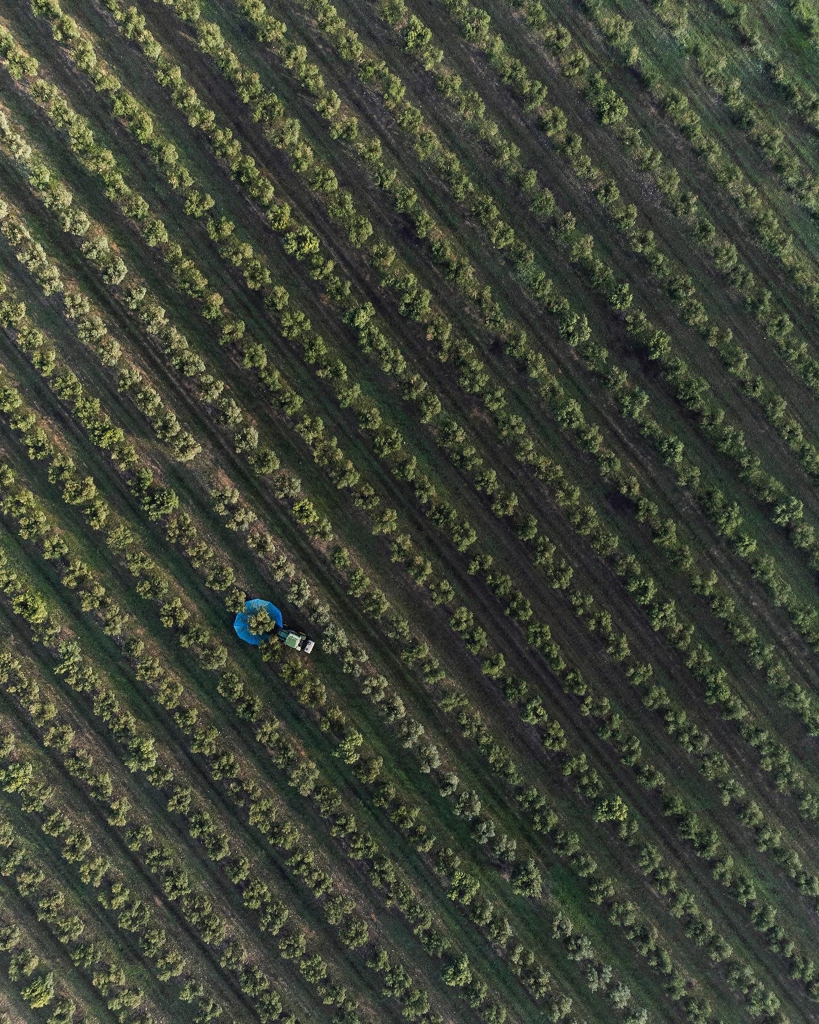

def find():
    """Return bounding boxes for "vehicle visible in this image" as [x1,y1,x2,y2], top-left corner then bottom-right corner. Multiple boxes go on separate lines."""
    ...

[275,624,315,654]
